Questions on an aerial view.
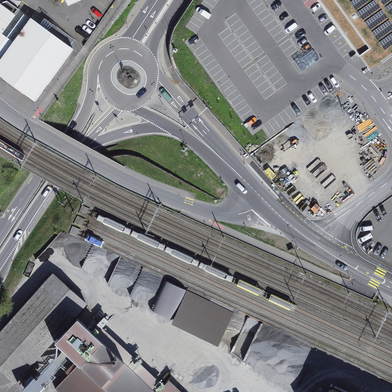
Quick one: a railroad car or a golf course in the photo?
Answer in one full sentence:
Of the two, only a railroad car appears.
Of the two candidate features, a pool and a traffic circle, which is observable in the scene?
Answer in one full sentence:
There is a traffic circle in the scene.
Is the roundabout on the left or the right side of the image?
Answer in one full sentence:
The roundabout is on the left side of the image.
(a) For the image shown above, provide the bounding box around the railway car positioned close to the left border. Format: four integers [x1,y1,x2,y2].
[0,139,25,162]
